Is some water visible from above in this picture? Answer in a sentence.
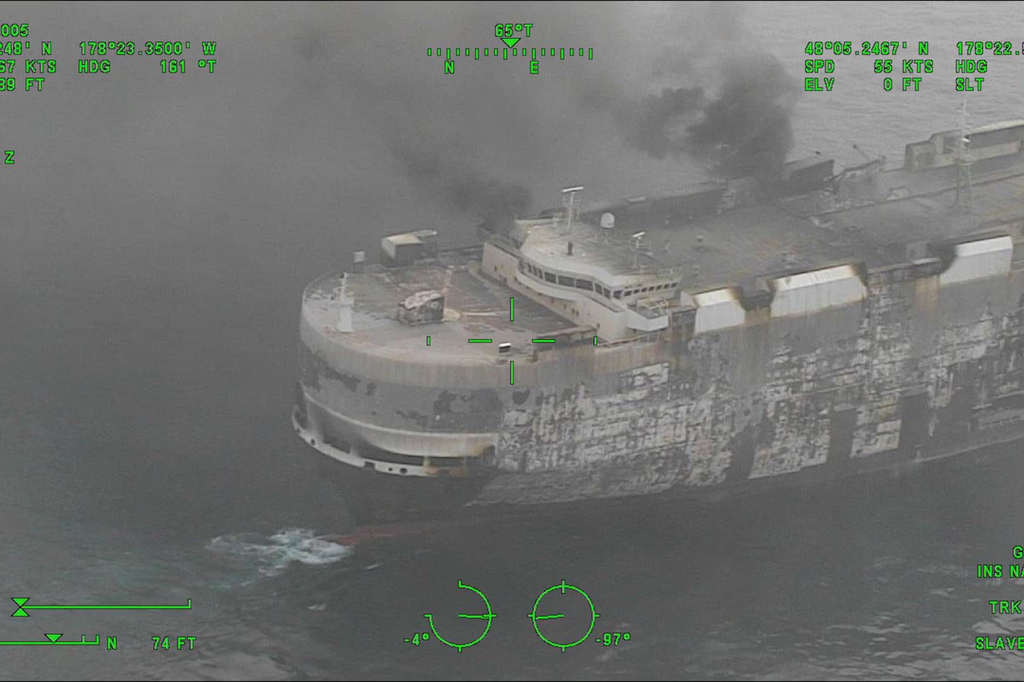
Yes, there's water in this view.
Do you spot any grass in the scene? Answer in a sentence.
No, grass can't be seen anywhere here.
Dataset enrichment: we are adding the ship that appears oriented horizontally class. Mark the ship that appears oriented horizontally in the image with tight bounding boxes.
[295,97,1024,537]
